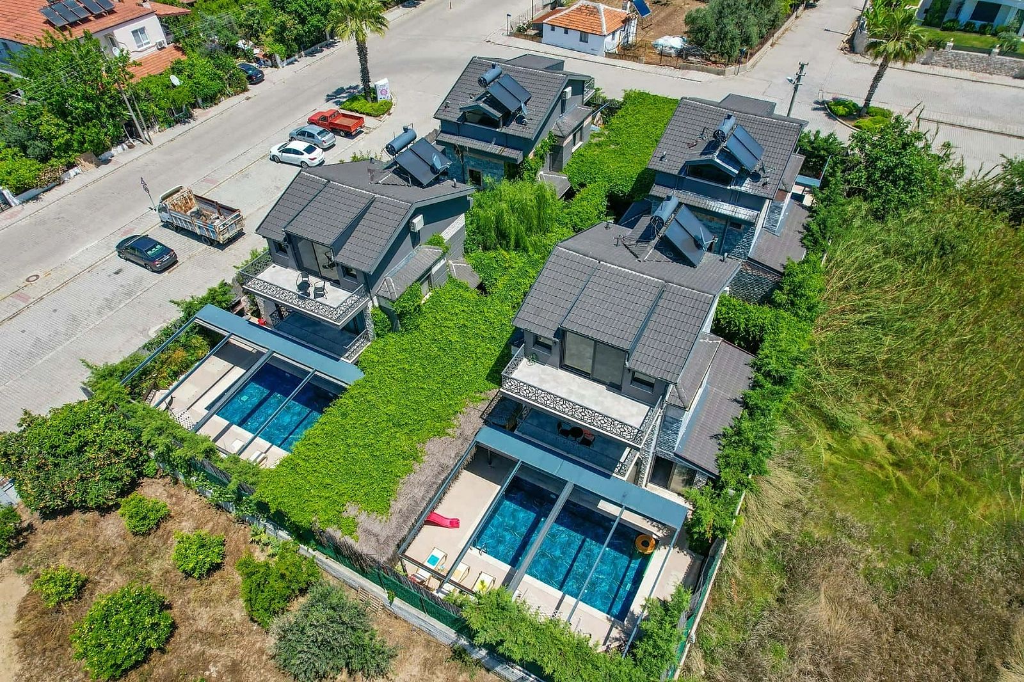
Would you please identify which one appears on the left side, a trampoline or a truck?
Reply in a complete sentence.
Visible on the left side is a truck.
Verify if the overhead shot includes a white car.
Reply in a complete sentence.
Yes, there's a white car here.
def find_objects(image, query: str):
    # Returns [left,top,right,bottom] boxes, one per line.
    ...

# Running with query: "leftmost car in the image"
[112,235,179,272]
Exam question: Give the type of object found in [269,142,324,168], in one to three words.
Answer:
car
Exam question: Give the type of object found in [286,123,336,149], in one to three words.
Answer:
car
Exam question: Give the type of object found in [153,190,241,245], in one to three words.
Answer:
truck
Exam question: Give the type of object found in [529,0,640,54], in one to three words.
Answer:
house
